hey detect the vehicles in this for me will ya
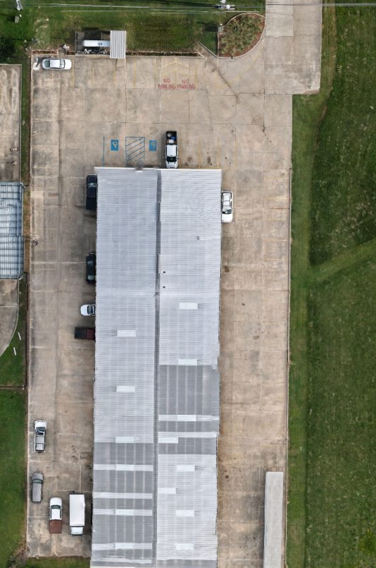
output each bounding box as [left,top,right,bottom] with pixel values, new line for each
[83,175,95,212]
[221,192,234,223]
[83,253,95,285]
[163,130,180,169]
[47,497,63,534]
[68,492,85,536]
[40,56,72,71]
[81,302,95,317]
[30,472,45,503]
[73,327,95,339]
